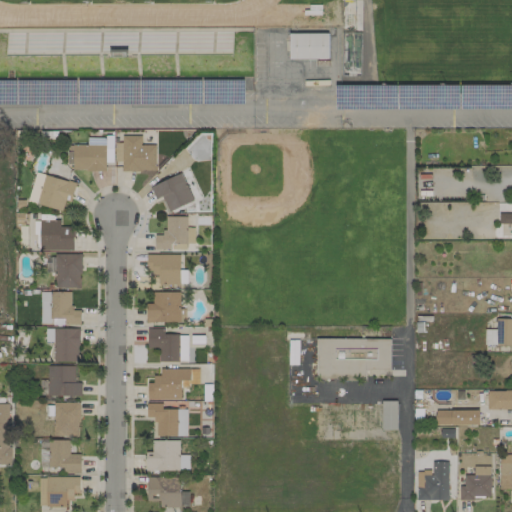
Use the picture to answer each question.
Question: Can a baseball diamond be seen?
Yes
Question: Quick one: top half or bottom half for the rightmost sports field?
top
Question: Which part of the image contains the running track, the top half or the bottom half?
top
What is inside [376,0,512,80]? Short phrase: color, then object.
green sports field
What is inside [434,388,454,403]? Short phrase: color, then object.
blue swimming pool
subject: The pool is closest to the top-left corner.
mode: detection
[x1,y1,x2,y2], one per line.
[37,152,49,173]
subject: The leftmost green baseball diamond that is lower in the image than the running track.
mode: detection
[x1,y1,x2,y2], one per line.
[214,128,408,327]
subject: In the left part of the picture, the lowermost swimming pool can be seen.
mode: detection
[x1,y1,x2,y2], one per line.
[192,301,206,320]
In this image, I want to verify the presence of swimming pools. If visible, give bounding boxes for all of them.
[21,256,32,278]
[192,301,206,320]
[194,266,206,285]
[434,388,454,403]
[37,152,49,173]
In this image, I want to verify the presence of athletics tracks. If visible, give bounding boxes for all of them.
[0,0,344,28]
